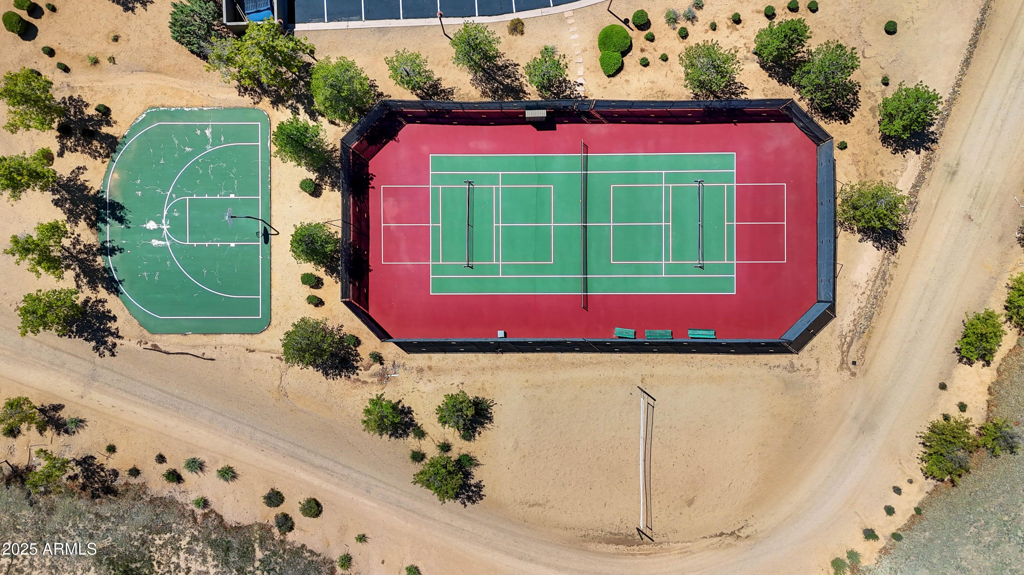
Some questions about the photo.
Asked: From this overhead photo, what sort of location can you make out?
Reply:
sports ground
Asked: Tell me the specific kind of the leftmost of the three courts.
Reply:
basketball court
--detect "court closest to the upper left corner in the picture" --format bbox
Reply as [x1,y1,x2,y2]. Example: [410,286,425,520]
[97,107,271,333]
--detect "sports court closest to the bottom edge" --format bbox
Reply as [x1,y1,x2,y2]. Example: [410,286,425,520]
[483,367,828,528]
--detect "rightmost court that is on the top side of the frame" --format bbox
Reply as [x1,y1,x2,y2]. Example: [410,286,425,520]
[349,108,817,340]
